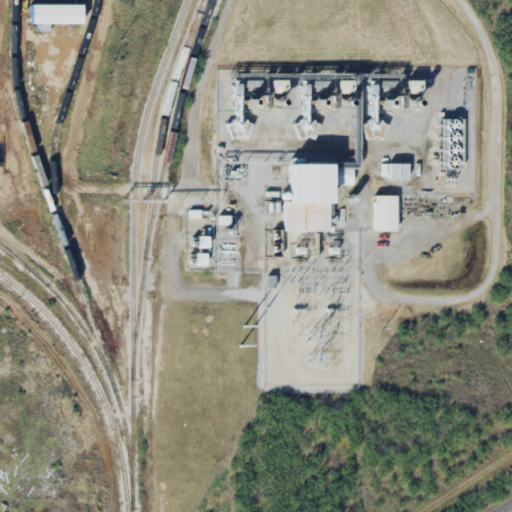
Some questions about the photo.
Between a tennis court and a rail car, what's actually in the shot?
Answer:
rail car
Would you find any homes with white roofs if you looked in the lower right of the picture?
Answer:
No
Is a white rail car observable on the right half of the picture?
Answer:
No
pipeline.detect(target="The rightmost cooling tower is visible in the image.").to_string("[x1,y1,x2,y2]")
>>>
[436,118,468,171]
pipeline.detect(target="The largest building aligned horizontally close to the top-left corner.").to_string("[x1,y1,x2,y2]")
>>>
[31,4,86,26]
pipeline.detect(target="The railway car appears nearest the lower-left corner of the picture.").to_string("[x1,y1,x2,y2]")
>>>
[63,248,81,281]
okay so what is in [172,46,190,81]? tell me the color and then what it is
white rail car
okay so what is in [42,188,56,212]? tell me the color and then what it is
white rail car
